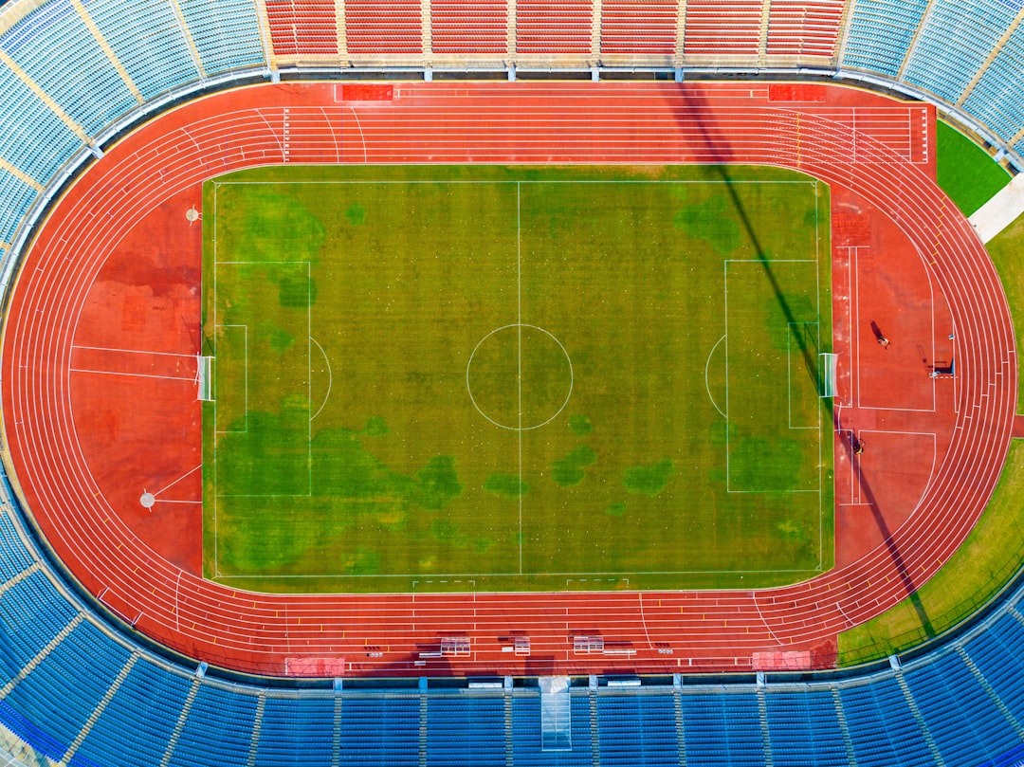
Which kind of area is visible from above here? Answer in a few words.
sports ground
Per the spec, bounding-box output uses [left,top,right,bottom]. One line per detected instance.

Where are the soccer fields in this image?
[202,165,835,593]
